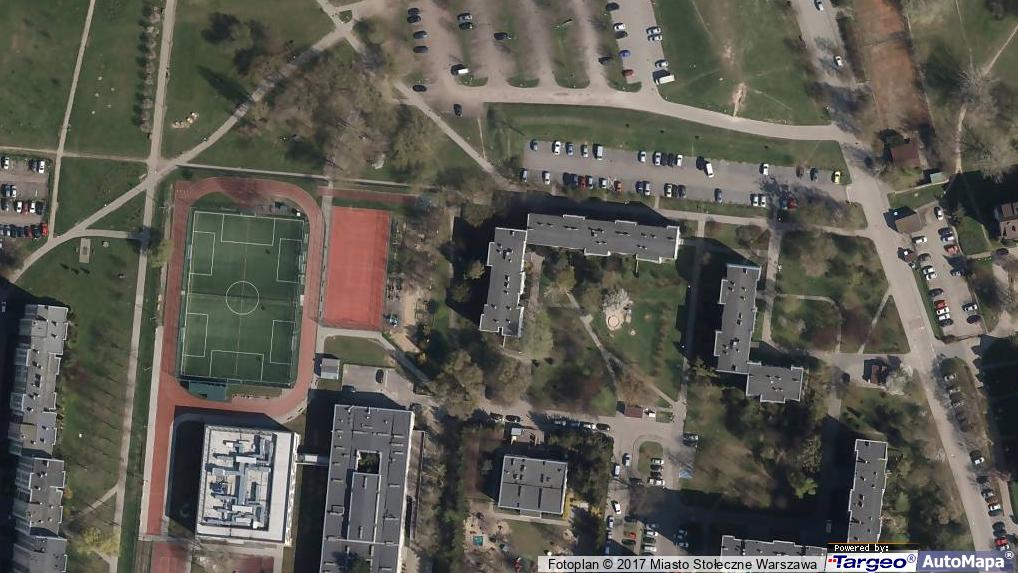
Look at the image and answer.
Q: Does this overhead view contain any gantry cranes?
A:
No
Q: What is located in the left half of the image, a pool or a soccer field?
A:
soccer field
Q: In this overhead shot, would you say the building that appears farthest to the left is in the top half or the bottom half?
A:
bottom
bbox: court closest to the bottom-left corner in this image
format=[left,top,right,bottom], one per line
[151,542,192,573]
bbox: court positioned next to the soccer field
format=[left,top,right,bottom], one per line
[323,207,390,330]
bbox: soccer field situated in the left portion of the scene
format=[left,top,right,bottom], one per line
[177,208,308,385]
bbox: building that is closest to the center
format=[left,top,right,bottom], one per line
[480,228,529,338]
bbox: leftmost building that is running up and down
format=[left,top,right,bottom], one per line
[8,305,72,573]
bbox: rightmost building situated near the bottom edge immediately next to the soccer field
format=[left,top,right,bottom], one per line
[319,404,415,573]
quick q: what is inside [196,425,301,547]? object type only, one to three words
building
